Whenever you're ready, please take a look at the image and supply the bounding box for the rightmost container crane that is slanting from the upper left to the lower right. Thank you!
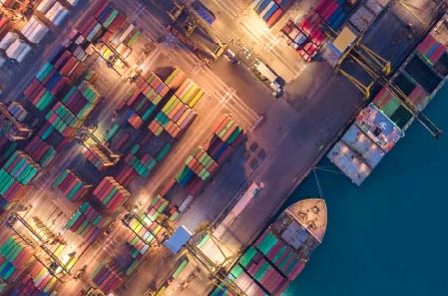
[320,24,442,139]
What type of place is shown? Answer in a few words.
port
